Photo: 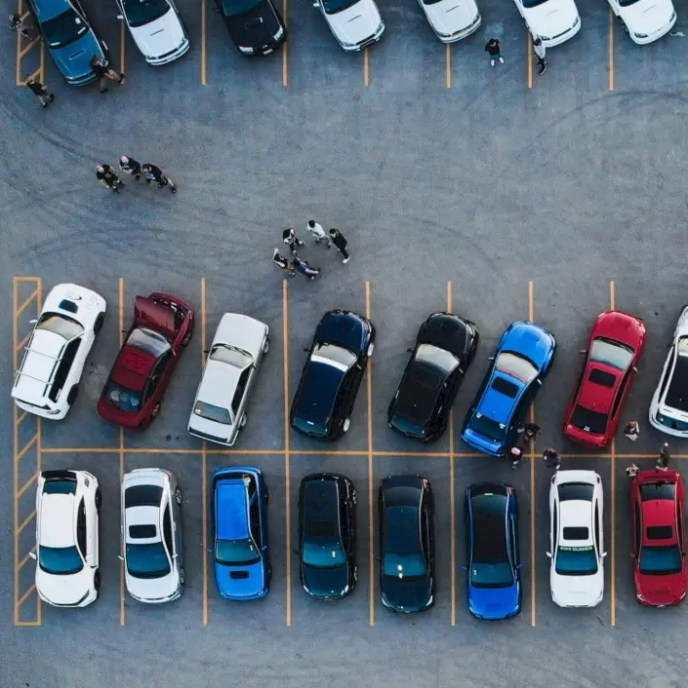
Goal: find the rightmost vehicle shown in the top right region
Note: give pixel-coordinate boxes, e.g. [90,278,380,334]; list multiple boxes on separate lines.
[606,0,674,49]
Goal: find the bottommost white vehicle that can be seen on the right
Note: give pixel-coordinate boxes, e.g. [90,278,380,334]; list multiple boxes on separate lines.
[544,471,611,609]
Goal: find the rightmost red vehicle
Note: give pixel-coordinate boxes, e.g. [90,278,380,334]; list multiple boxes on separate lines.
[628,471,688,608]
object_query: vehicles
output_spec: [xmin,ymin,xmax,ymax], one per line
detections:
[109,0,189,72]
[373,477,439,614]
[390,311,474,445]
[10,0,100,92]
[563,309,644,451]
[29,472,103,609]
[460,485,526,622]
[628,471,688,608]
[544,471,611,609]
[293,474,358,600]
[116,469,185,605]
[292,309,370,444]
[187,310,271,449]
[98,293,193,432]
[412,0,478,49]
[207,0,280,61]
[514,0,582,52]
[13,283,106,423]
[207,467,271,602]
[606,0,674,49]
[309,0,378,58]
[463,319,551,460]
[651,307,688,441]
